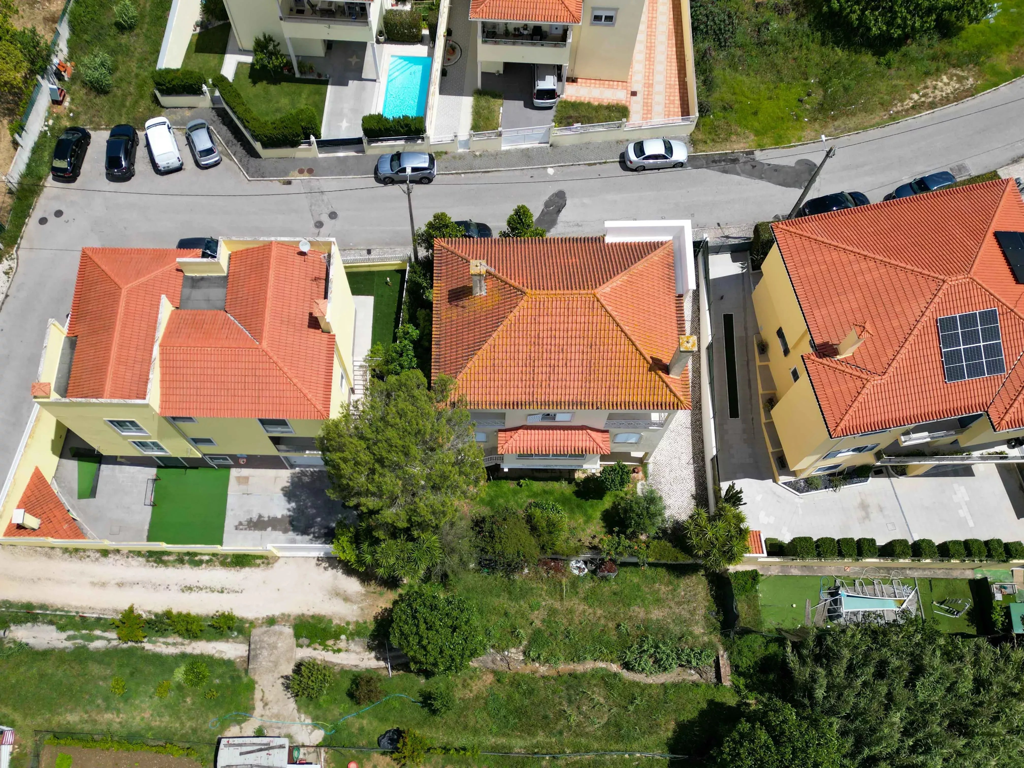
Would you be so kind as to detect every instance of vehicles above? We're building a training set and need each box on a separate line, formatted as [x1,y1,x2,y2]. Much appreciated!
[886,172,950,201]
[623,140,689,172]
[54,129,96,183]
[185,121,225,169]
[532,64,561,110]
[141,121,184,174]
[105,128,142,179]
[375,152,437,185]
[803,191,865,217]
[172,233,226,250]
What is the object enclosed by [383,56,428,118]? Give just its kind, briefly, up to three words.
swimming pool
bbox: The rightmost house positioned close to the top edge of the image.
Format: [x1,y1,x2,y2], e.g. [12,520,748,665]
[469,0,644,94]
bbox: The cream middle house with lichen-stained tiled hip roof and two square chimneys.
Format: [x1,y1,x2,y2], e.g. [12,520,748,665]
[430,221,701,475]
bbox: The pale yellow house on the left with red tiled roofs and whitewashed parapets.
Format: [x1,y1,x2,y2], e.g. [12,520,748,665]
[26,234,360,470]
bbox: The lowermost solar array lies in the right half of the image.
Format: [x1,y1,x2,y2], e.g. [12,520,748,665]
[940,308,1008,382]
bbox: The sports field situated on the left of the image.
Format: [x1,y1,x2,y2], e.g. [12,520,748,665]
[147,467,230,545]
